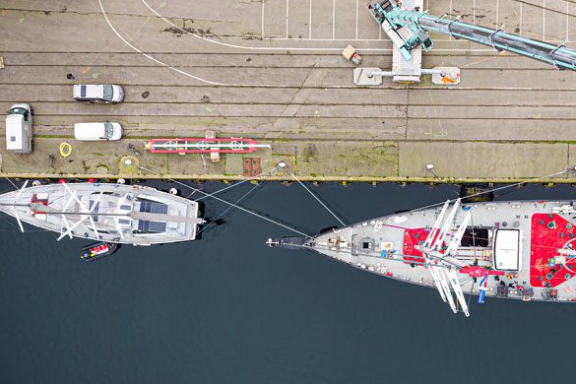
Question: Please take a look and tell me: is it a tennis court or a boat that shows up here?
boat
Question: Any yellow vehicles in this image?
No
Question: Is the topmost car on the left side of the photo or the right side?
left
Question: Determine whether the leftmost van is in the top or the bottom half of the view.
top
